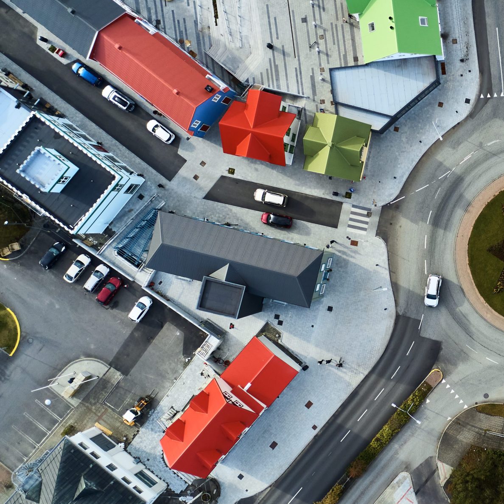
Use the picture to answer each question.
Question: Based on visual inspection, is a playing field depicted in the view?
No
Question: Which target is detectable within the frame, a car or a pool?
car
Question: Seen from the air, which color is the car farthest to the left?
black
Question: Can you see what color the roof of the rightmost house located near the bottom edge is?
red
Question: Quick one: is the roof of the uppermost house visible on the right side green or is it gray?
green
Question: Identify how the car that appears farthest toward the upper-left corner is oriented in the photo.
at an angle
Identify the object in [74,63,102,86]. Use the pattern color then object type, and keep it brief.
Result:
blue car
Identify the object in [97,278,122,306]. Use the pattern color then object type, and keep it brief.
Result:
red car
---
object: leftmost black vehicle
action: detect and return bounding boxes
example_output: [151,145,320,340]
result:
[40,242,67,270]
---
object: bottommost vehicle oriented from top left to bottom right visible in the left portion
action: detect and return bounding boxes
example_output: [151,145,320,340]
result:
[147,120,176,143]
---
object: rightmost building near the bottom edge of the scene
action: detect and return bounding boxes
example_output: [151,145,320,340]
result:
[160,336,300,494]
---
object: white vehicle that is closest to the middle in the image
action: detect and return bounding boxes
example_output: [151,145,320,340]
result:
[256,190,286,207]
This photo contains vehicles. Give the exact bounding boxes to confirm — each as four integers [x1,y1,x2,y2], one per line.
[97,278,122,306]
[263,212,292,227]
[147,120,176,143]
[74,63,102,86]
[84,265,109,293]
[40,242,67,270]
[65,255,90,282]
[122,393,158,424]
[104,87,135,110]
[128,297,153,324]
[425,275,440,306]
[256,190,286,207]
